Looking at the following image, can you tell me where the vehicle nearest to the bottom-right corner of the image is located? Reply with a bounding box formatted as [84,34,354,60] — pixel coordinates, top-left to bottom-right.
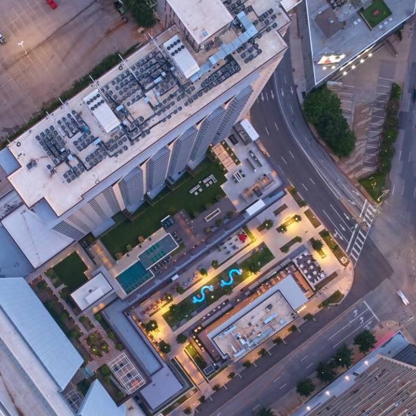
[397,289,411,306]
